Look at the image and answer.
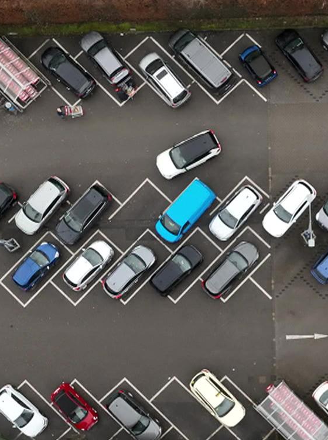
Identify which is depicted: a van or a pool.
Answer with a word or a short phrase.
van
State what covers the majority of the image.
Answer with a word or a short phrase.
paved ground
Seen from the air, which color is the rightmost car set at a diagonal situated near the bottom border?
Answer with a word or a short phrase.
white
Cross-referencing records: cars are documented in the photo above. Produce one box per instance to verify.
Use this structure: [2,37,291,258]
[312,249,328,285]
[12,242,61,291]
[0,182,18,219]
[189,368,246,426]
[160,126,220,179]
[276,31,321,84]
[101,246,156,301]
[213,184,263,239]
[105,390,161,440]
[150,246,202,297]
[63,241,114,292]
[81,30,133,89]
[43,45,99,102]
[50,382,99,430]
[240,45,278,90]
[312,379,328,415]
[202,244,258,300]
[264,179,317,236]
[0,383,48,438]
[18,176,71,234]
[138,52,192,112]
[57,181,114,242]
